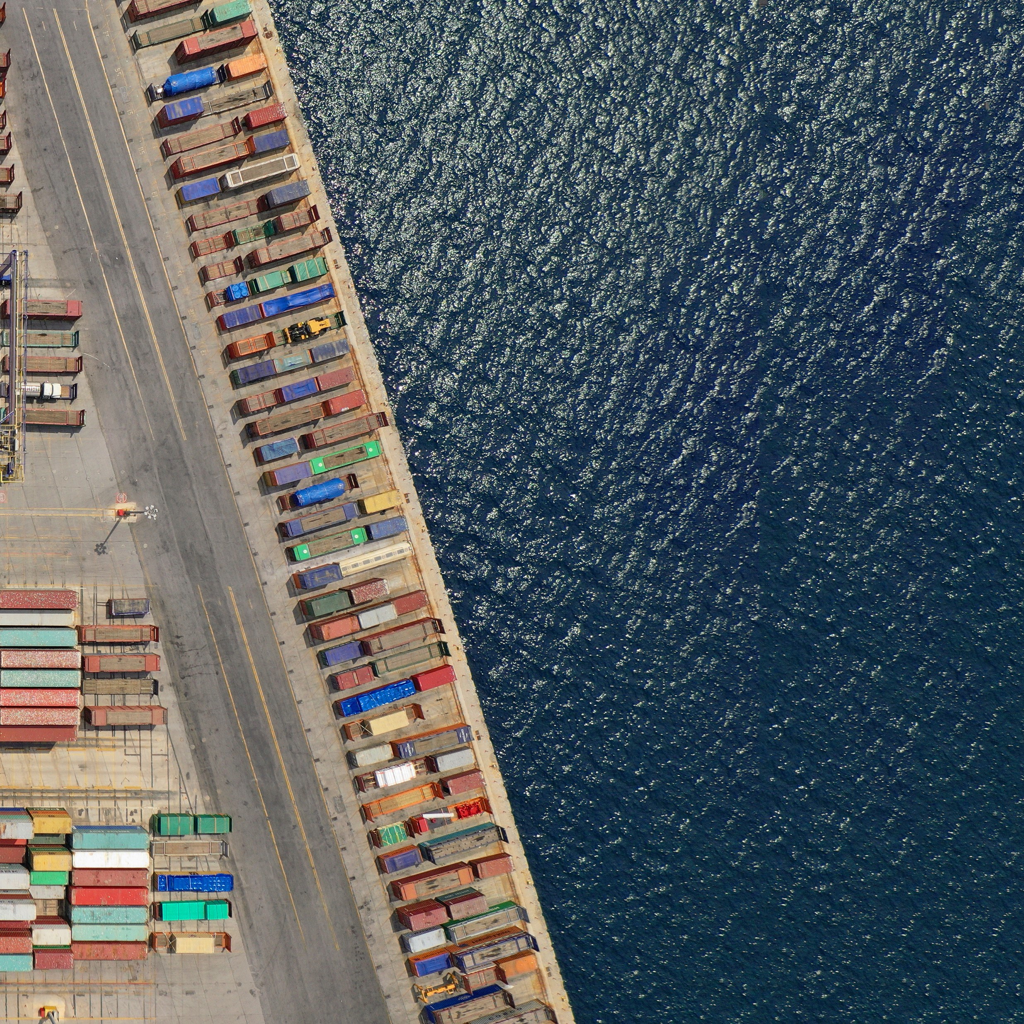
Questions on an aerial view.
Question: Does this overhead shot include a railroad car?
Yes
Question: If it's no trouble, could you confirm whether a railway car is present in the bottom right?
No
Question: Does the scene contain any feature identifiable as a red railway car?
No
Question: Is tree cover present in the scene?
No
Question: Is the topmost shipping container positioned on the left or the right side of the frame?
left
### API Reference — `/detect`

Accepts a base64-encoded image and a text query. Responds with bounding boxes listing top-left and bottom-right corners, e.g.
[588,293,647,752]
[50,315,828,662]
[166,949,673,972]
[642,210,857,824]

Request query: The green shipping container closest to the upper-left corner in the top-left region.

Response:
[208,0,253,27]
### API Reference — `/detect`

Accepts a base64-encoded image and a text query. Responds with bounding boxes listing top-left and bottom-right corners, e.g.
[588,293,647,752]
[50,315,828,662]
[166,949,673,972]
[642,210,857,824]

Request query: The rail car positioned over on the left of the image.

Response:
[333,541,413,576]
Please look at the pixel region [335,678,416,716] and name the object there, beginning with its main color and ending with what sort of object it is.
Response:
blue shipping container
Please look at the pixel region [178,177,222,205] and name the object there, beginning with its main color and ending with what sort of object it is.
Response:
blue shipping container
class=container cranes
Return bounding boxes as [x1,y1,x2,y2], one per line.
[0,250,29,483]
